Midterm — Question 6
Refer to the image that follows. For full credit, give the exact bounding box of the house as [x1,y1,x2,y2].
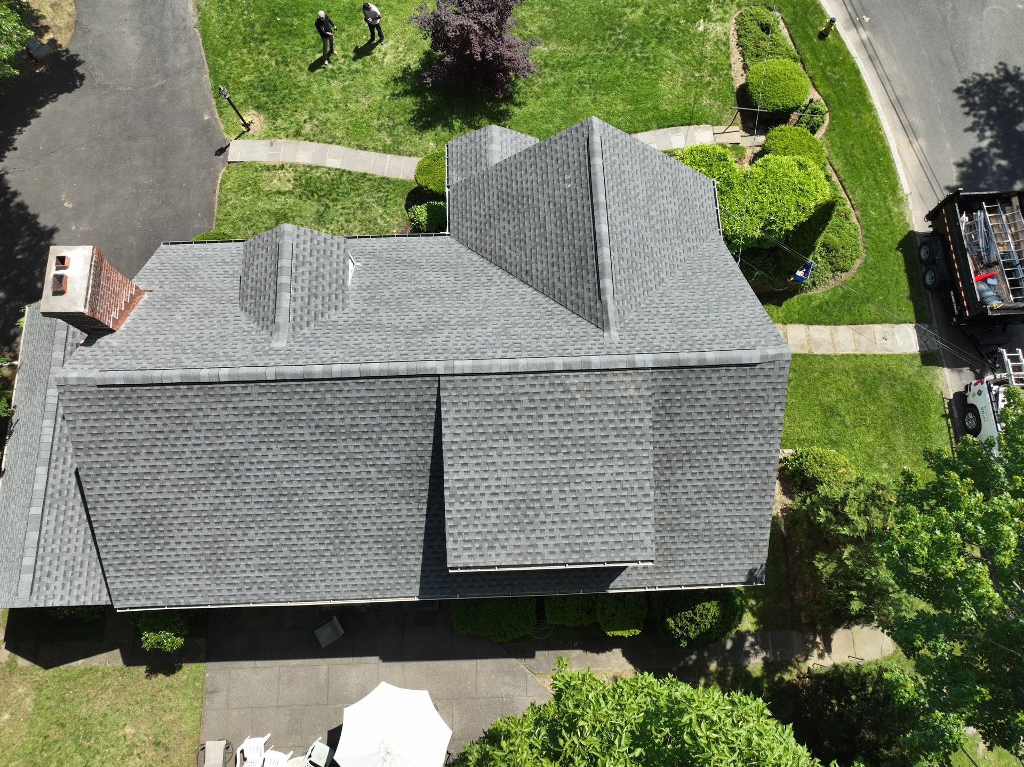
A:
[0,114,793,609]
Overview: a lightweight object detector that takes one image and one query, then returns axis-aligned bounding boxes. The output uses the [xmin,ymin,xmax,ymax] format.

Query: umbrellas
[329,677,455,767]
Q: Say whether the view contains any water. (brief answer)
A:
No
